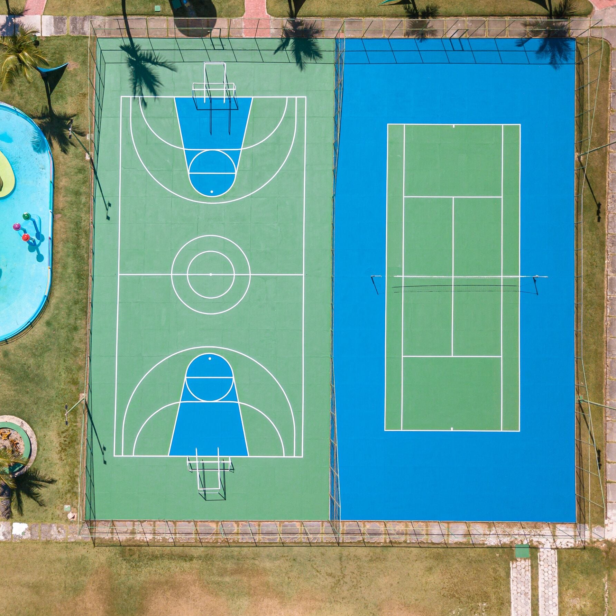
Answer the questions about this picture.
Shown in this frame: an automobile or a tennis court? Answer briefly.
tennis court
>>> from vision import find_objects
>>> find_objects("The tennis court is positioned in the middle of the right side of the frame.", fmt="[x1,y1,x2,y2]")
[330,38,576,523]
